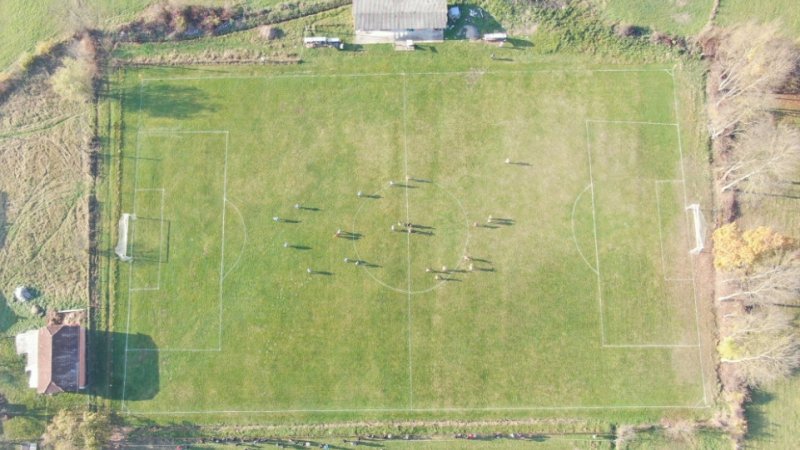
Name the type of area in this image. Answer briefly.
sports ground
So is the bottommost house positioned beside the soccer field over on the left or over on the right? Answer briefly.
left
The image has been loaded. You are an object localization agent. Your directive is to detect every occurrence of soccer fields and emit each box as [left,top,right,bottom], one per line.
[113,62,714,423]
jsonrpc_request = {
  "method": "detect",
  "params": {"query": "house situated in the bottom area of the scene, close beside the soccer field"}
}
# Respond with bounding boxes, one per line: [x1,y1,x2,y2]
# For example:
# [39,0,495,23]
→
[16,325,90,395]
